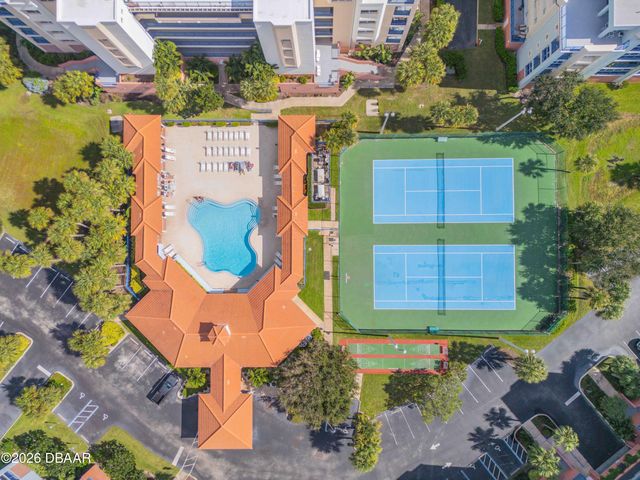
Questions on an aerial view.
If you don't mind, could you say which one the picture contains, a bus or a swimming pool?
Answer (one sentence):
The image shows a swimming pool.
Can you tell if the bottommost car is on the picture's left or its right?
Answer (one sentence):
It is on the left.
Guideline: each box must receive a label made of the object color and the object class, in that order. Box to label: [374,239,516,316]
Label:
blue tennis court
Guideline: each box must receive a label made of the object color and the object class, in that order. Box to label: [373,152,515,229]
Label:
blue tennis court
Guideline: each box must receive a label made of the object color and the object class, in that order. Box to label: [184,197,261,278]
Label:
blue swimming pool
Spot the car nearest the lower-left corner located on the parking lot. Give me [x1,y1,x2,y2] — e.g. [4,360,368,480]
[149,375,178,406]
